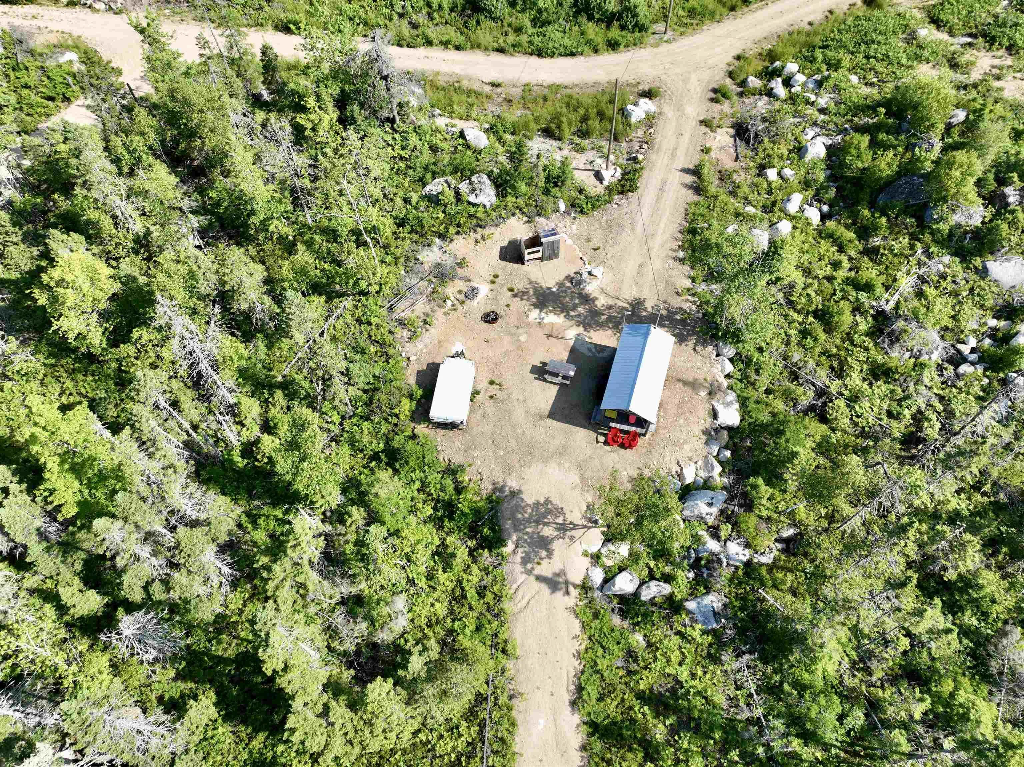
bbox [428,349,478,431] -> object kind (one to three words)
trailer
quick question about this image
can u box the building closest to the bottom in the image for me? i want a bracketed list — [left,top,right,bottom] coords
[590,324,676,439]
